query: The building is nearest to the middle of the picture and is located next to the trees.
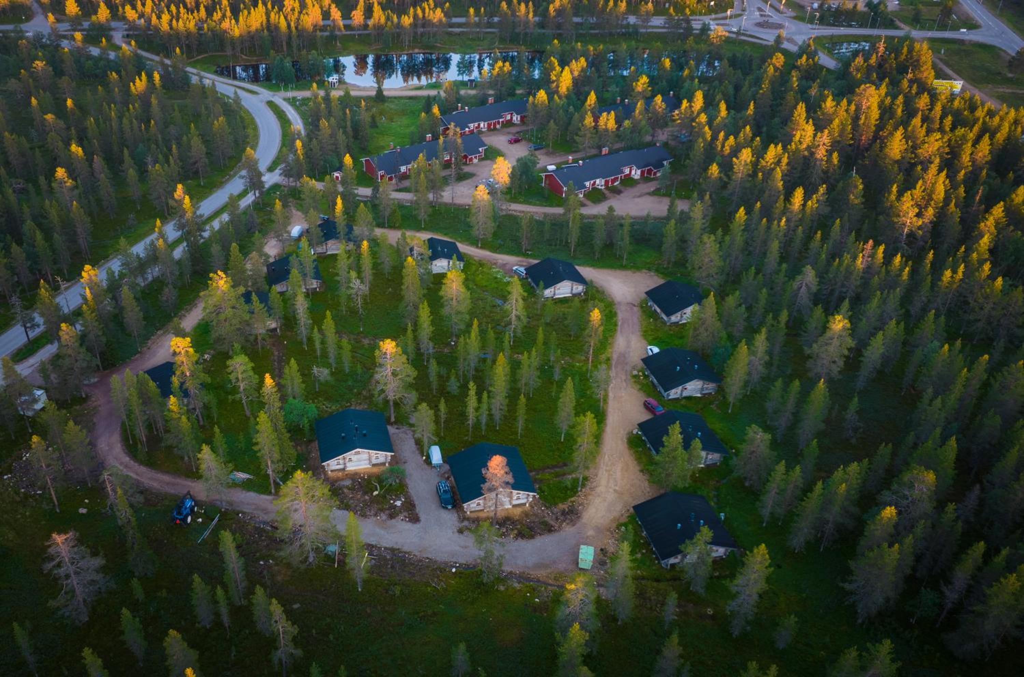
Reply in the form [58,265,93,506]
[525,259,588,299]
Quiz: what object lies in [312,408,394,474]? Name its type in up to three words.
building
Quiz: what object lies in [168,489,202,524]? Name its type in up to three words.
work vehicle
